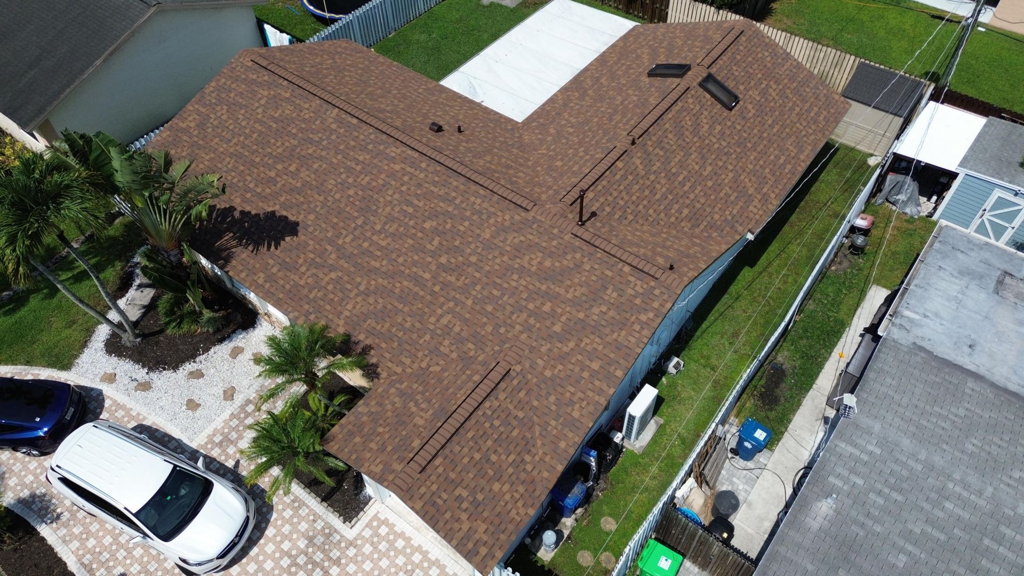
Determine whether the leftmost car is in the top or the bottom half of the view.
bottom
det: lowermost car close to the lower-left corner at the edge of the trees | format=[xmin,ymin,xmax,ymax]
[38,416,261,576]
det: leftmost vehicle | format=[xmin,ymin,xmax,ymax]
[0,371,89,459]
